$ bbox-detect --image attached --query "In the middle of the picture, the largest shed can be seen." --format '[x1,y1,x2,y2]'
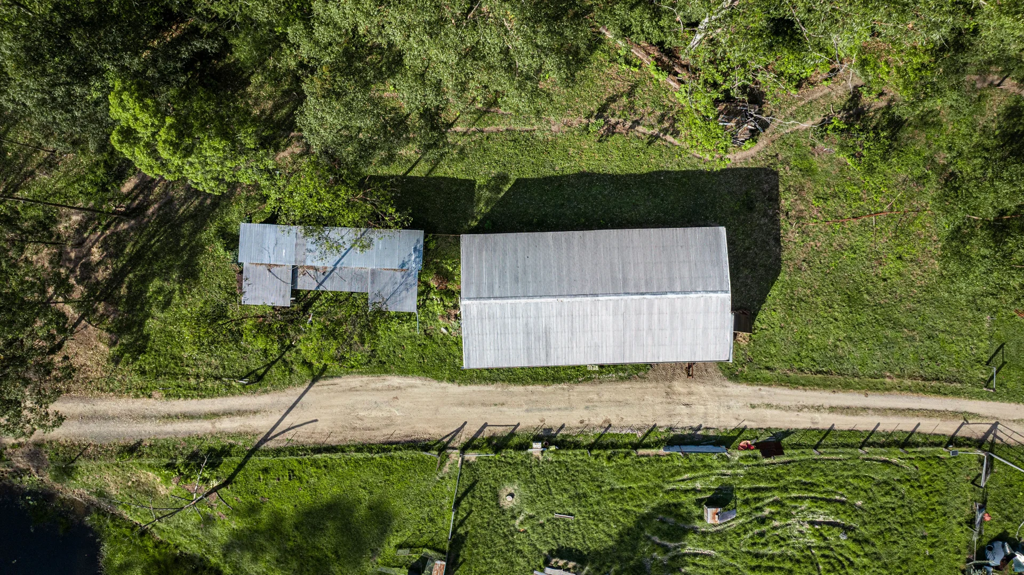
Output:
[459,227,735,370]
